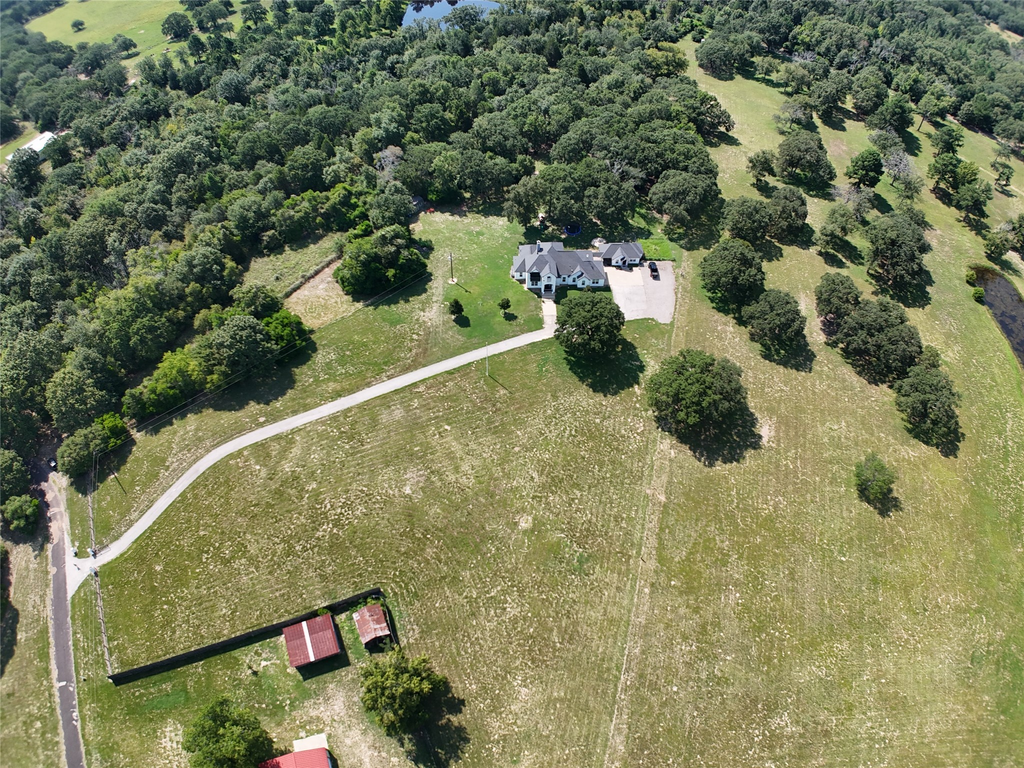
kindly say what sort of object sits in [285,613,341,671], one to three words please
shed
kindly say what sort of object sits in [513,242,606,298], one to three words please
house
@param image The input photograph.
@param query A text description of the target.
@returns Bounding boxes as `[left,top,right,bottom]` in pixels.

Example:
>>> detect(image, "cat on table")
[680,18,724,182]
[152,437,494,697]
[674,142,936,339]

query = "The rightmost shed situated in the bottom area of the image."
[354,604,390,646]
